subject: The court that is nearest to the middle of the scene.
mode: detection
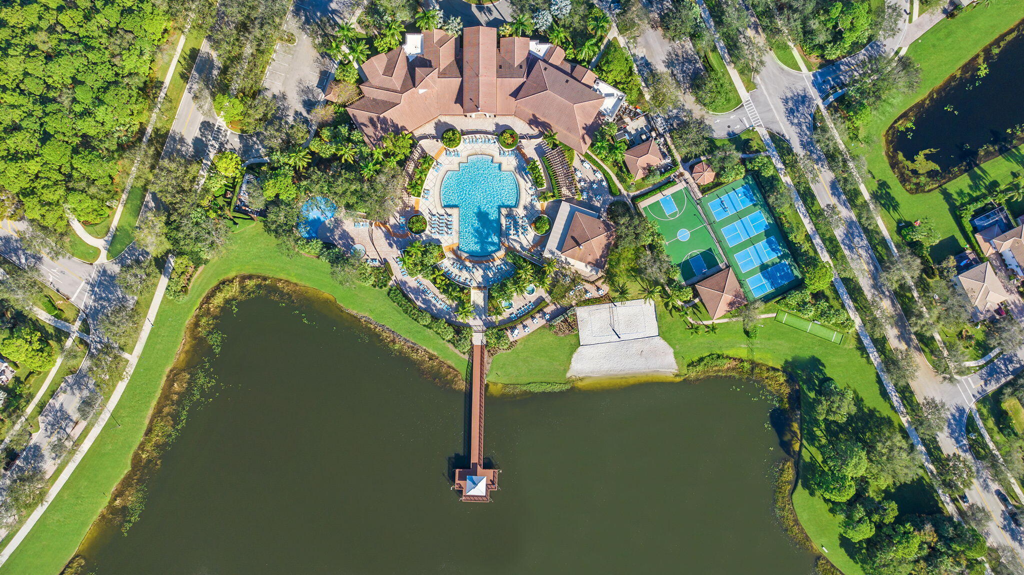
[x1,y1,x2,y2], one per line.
[576,299,659,346]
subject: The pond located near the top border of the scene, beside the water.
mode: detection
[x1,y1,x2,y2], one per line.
[886,23,1024,193]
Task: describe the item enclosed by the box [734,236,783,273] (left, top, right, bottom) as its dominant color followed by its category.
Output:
blue sports court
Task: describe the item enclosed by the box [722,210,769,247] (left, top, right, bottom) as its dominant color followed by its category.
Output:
blue sports court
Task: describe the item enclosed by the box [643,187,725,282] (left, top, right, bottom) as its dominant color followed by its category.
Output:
green basketball court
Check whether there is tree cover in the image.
Yes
